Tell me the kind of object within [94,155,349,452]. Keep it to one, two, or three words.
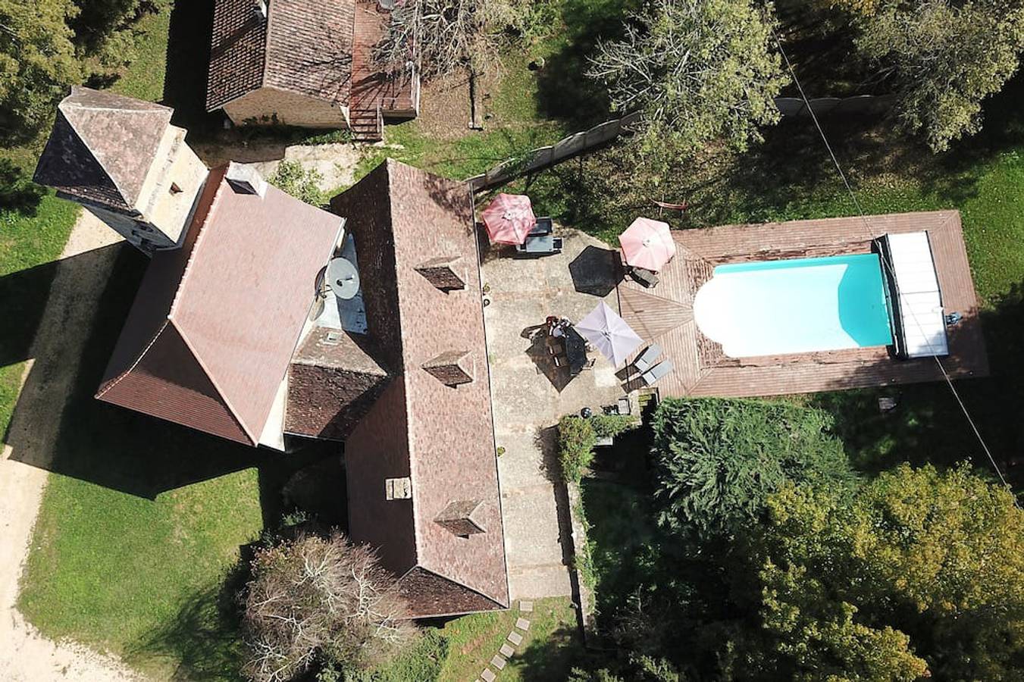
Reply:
house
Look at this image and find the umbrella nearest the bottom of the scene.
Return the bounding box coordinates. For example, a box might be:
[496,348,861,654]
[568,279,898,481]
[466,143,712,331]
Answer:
[575,301,643,368]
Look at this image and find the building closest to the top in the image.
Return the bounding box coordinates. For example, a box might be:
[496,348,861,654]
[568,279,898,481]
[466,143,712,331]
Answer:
[205,0,364,128]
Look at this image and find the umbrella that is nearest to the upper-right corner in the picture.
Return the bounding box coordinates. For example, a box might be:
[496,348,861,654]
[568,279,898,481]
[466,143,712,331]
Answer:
[618,218,675,271]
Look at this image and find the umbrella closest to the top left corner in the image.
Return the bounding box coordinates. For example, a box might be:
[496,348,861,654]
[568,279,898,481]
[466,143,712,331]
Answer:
[483,194,536,244]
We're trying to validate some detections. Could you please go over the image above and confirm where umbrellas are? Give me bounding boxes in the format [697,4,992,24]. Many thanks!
[575,301,643,368]
[618,218,675,271]
[483,194,536,244]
